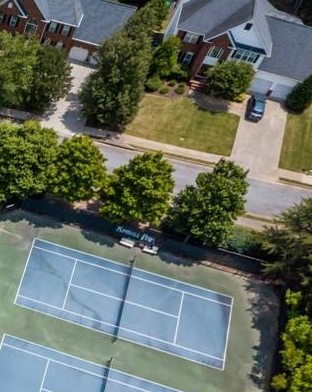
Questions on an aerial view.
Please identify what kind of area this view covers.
sports ground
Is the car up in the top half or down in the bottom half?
top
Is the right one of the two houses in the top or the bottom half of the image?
top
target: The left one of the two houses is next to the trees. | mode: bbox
[0,0,112,56]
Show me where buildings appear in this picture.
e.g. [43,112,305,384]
[168,0,312,99]
[0,0,112,56]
